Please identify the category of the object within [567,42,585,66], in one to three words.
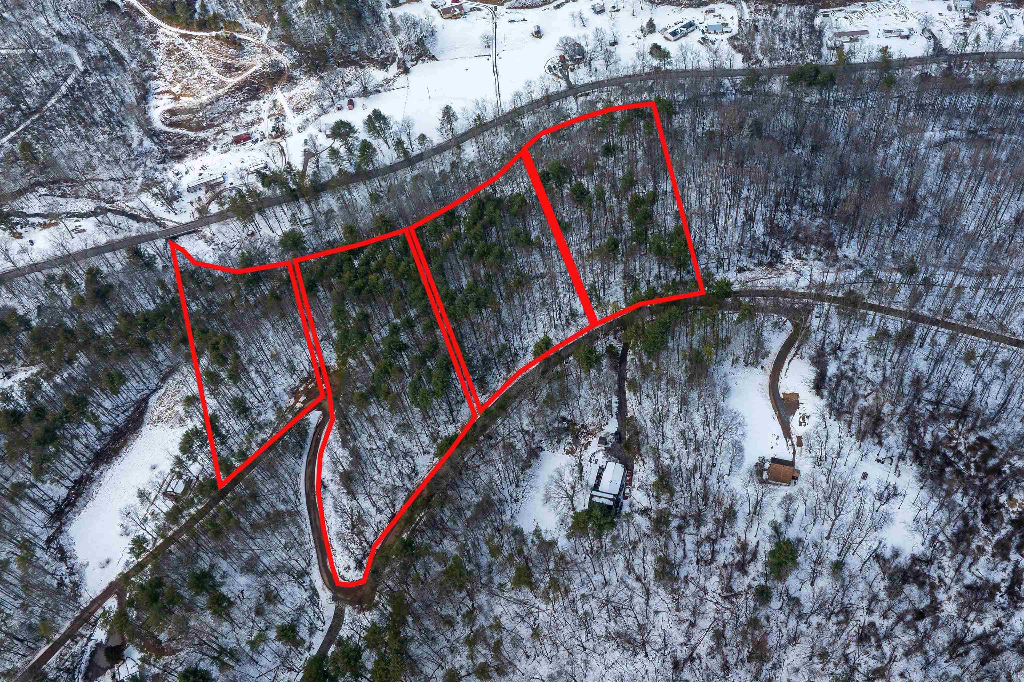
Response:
house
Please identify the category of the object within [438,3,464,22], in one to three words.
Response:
house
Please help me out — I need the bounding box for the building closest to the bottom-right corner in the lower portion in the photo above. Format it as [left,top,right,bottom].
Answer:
[760,461,801,492]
